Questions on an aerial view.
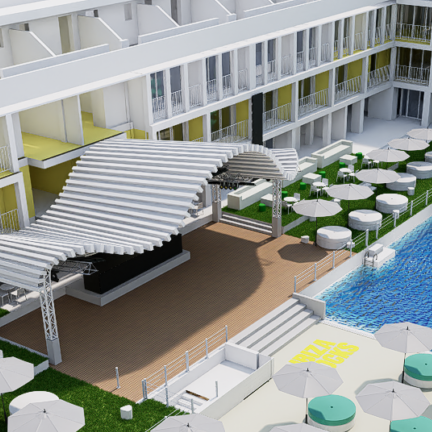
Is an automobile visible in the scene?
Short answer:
No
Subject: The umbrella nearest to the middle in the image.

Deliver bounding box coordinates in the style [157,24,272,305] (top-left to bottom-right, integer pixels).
[292,201,343,247]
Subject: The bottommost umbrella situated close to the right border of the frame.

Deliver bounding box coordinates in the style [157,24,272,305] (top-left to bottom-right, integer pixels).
[355,383,430,432]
